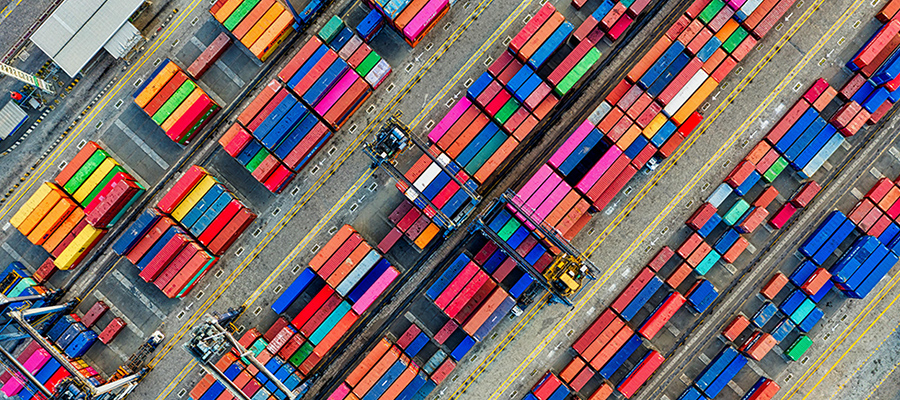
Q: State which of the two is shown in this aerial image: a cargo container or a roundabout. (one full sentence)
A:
It is a cargo container that can be seen here.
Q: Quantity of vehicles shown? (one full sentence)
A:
My tally gives 3 vehicles in this view.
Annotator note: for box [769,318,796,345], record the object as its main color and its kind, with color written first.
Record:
blue shipping container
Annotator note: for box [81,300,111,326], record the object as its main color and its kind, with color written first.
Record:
red shipping container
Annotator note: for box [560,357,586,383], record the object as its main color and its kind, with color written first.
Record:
red shipping container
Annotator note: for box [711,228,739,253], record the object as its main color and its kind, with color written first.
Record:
blue shipping container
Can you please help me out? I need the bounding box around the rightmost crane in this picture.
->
[463,185,598,307]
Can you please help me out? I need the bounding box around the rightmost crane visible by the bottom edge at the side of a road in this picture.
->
[178,297,328,400]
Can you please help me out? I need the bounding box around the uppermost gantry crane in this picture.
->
[279,0,335,42]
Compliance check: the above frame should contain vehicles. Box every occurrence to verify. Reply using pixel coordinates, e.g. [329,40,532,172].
[642,149,663,172]
[510,264,557,317]
[120,330,168,379]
